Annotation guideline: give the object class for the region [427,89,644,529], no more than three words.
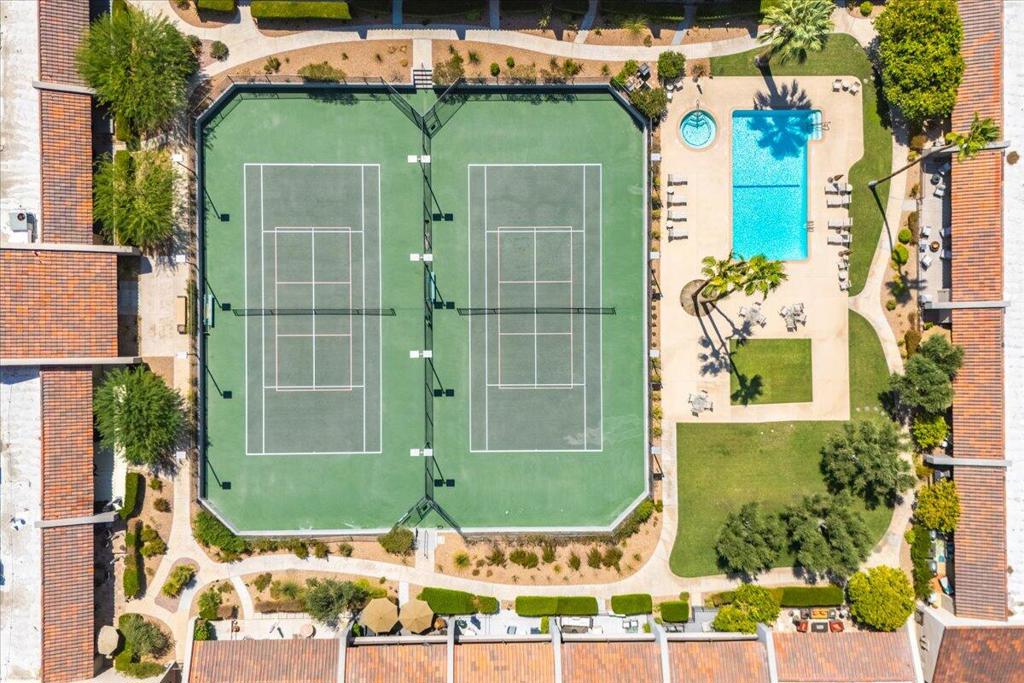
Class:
tennis court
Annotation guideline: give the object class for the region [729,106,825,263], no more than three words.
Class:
swimming pool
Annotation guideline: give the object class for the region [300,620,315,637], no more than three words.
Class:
umbrella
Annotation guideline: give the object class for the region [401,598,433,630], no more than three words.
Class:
umbrella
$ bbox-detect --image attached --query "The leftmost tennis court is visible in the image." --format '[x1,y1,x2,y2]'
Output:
[203,88,429,531]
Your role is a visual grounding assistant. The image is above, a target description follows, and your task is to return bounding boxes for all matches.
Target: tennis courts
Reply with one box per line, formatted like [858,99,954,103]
[427,89,644,529]
[203,88,429,531]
